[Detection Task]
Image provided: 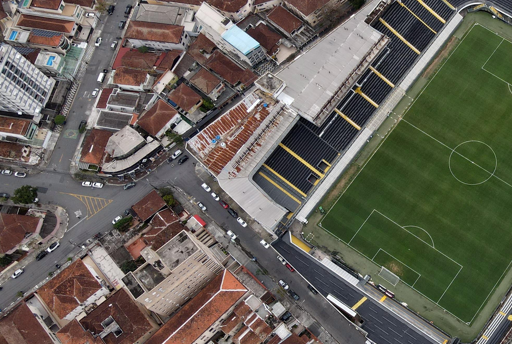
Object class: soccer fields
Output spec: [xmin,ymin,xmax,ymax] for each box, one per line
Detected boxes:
[301,11,512,341]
